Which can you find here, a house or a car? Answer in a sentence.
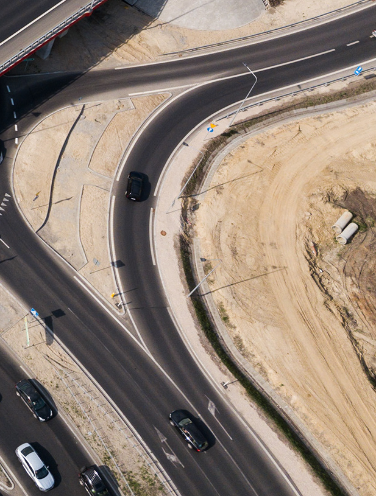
Looking from above, you can make out a car.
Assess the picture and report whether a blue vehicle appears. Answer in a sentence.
No, no blue vehicle is visible in the scene.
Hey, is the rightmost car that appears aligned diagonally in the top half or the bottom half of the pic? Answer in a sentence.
The rightmost car that appears aligned diagonally sits in the bottom half of the picture.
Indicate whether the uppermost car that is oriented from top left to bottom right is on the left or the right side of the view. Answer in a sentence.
The uppermost car that is oriented from top left to bottom right is on the left side of the image.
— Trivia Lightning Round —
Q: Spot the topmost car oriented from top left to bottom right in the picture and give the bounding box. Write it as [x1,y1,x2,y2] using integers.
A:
[13,378,54,424]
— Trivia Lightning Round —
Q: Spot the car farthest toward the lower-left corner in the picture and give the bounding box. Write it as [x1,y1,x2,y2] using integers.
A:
[13,441,56,494]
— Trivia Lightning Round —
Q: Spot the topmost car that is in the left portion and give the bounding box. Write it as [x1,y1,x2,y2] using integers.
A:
[126,173,145,205]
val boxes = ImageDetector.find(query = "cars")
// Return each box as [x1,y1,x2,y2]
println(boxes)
[126,173,145,205]
[166,410,210,455]
[13,378,54,424]
[13,441,56,494]
[75,464,115,496]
